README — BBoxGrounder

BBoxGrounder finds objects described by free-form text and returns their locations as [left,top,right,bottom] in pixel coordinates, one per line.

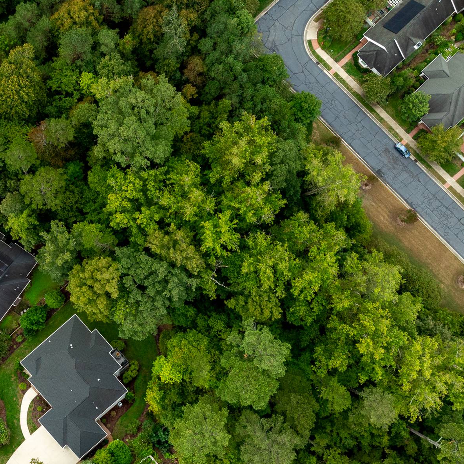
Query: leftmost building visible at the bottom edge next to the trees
[20,313,129,458]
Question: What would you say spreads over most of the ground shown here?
trees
